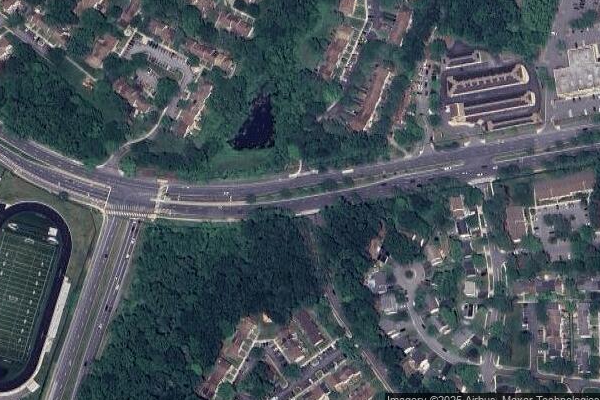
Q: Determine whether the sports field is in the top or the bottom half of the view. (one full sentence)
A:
You can find the sports field in the bottom half.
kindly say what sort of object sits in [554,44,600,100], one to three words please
building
